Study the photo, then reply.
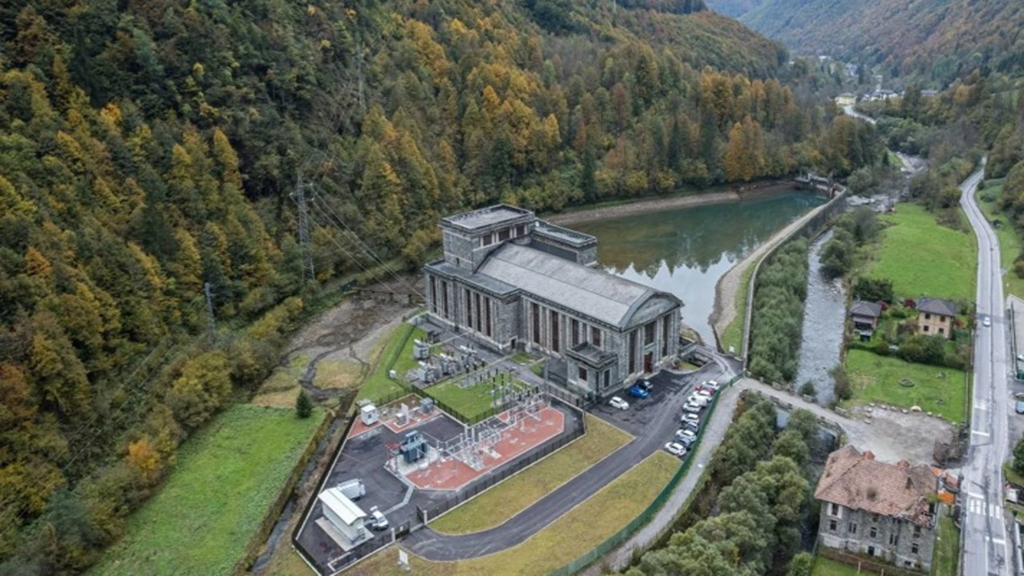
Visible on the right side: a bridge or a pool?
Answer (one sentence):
Looking on the right side, you will find a bridge.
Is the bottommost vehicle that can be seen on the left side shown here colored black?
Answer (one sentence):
No, the bottommost vehicle that can be seen on the left side is white.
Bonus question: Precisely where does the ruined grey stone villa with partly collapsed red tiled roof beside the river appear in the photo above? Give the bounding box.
[816,441,951,575]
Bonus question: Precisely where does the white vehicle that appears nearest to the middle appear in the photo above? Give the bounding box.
[608,395,629,408]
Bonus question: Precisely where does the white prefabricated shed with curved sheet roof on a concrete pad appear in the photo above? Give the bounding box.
[311,489,379,550]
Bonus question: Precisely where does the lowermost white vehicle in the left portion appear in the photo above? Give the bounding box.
[367,504,388,530]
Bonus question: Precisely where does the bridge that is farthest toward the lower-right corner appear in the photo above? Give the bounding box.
[751,382,844,452]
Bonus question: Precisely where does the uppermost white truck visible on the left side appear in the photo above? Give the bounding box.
[335,474,372,497]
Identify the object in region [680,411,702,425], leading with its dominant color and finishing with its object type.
white car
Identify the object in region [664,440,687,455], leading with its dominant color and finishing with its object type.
white car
